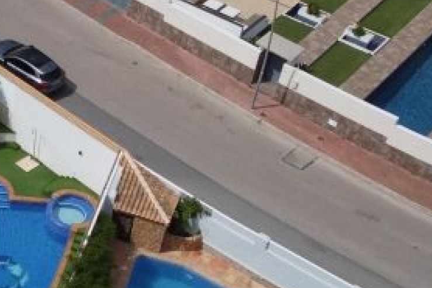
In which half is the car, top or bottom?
top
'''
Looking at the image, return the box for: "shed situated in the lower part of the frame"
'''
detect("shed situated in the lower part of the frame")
[112,152,179,266]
